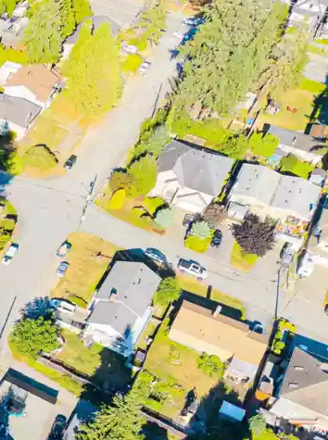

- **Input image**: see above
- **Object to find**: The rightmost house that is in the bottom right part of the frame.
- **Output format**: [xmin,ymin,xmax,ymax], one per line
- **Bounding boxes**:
[268,345,328,438]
